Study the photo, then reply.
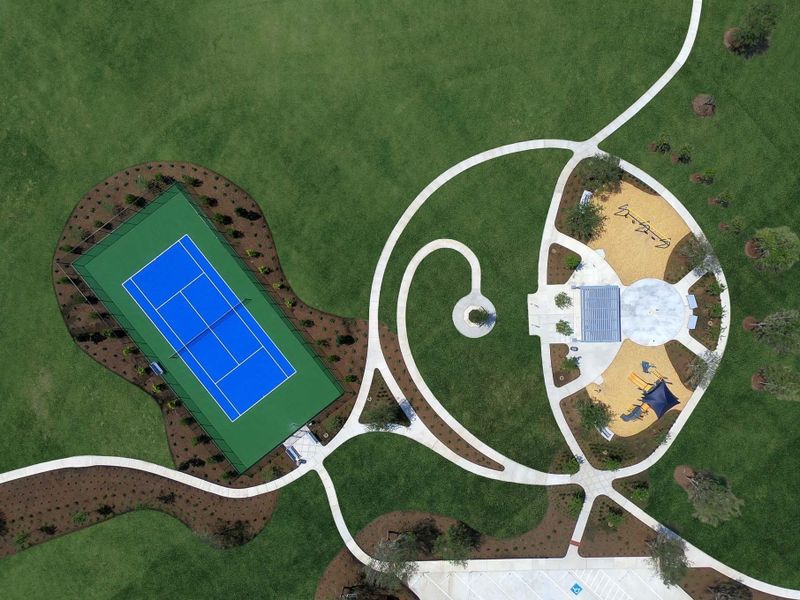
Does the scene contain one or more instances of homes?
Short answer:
No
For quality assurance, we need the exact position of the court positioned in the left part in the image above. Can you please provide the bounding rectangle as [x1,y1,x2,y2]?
[73,181,345,475]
